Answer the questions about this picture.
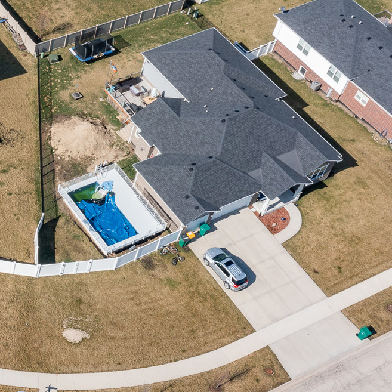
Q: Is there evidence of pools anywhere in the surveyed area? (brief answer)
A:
Yes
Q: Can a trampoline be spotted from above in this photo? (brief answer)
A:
Yes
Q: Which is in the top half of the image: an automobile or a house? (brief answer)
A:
house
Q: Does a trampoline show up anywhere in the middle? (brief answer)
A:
No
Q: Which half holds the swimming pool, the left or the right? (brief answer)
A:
left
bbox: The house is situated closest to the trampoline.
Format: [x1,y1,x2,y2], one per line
[125,27,346,244]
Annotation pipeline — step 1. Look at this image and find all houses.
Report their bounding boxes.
[125,27,346,244]
[272,0,392,149]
